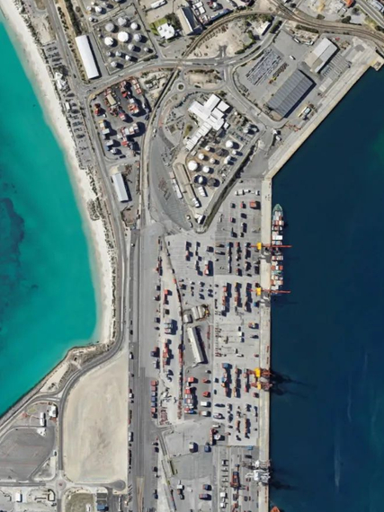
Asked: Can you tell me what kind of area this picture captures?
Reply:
port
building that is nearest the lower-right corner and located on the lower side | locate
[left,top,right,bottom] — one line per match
[187,326,204,364]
